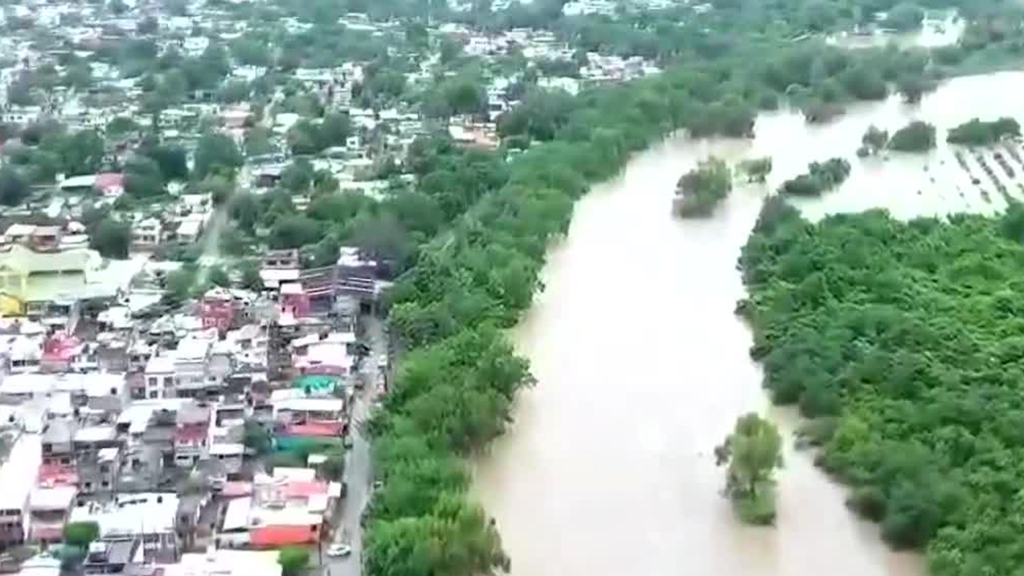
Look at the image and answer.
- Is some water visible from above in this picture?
Yes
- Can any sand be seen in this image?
No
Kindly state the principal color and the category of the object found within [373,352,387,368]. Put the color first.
white vehicle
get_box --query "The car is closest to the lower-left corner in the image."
[325,542,351,556]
